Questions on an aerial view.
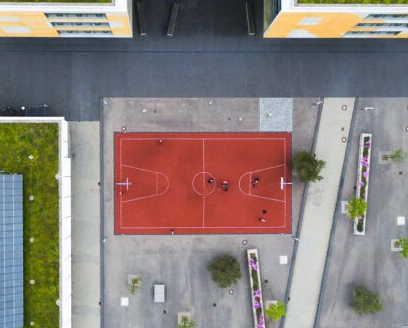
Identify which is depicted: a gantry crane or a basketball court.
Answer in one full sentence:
Of the two, only a basketball court appears.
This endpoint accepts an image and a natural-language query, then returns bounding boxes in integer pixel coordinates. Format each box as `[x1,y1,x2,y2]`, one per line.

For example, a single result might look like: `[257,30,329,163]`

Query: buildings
[0,0,132,38]
[264,0,408,38]
[0,117,71,328]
